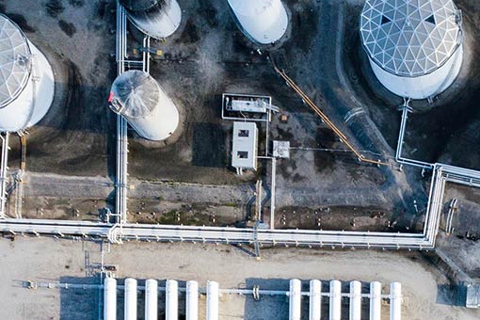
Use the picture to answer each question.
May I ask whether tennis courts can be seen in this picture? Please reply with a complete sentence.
No, the frame has no tennis court in it.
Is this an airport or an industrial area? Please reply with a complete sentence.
This image shows an industrial area.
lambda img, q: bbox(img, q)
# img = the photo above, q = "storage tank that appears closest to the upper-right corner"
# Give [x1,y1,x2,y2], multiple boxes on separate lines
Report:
[360,0,468,102]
